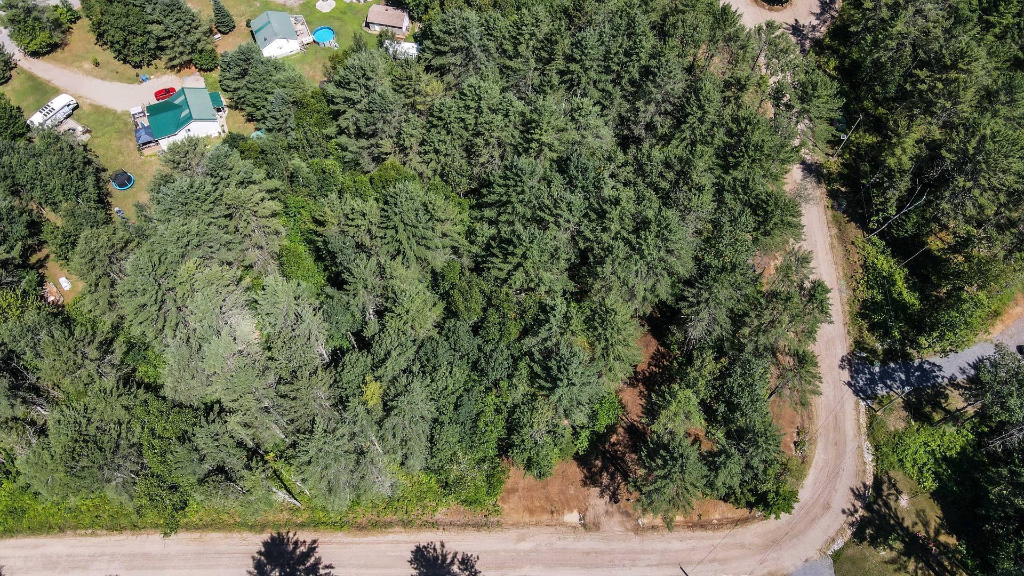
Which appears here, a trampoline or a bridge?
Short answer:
trampoline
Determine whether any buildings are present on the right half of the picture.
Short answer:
No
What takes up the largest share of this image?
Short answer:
trees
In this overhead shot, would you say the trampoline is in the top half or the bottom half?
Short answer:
top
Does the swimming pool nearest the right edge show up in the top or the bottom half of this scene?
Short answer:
top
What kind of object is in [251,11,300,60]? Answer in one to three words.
house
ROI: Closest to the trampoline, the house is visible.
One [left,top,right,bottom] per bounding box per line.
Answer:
[146,87,230,145]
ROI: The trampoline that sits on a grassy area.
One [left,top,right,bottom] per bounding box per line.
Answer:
[109,168,135,192]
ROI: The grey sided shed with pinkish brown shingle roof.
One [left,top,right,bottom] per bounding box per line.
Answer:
[367,9,409,39]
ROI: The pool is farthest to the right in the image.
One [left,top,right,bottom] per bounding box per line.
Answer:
[312,26,337,47]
